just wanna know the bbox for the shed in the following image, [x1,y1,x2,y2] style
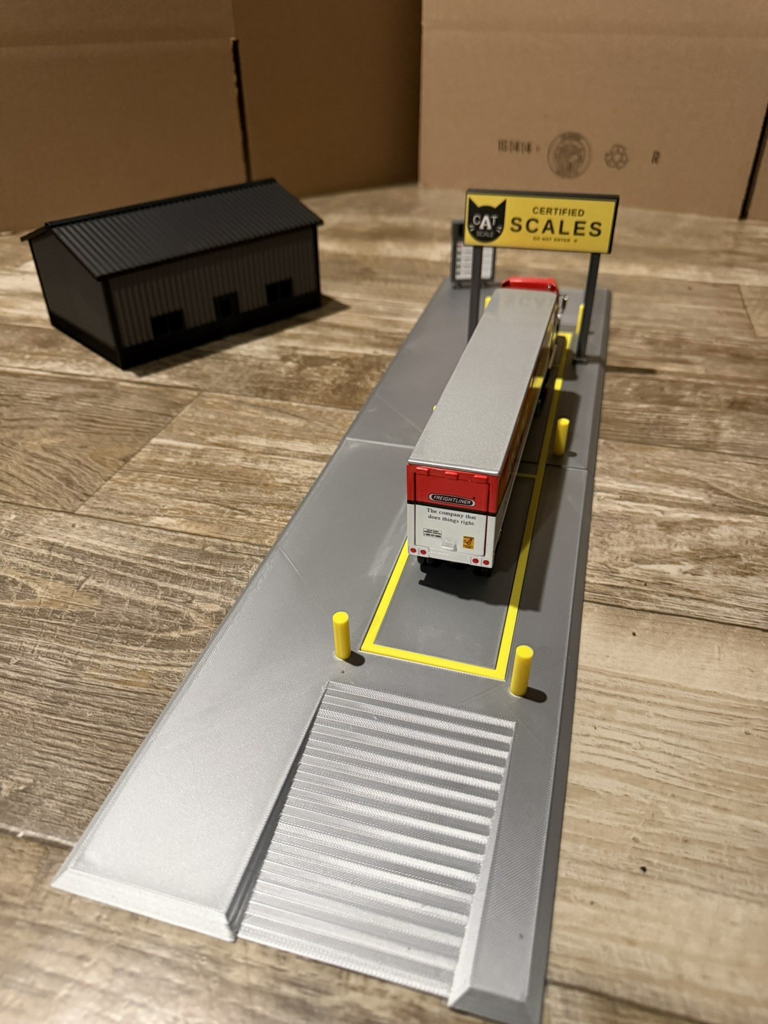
[19,178,325,368]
